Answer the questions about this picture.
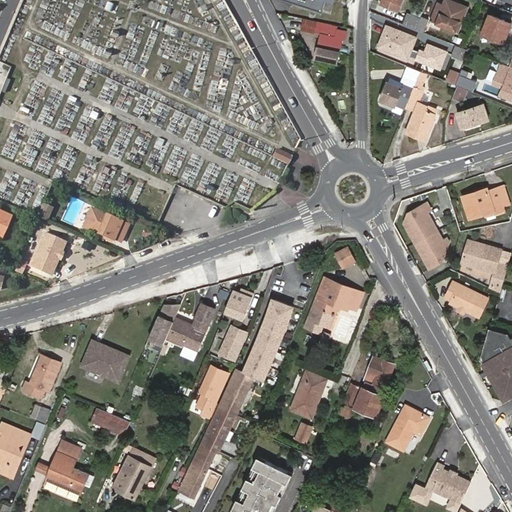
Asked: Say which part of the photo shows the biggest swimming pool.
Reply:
left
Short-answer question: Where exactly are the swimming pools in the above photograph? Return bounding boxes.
[63,196,85,226]
[481,82,500,96]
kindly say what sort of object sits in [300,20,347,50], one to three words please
house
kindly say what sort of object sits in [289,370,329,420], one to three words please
house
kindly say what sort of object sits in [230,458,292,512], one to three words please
building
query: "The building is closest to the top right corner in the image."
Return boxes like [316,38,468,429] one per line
[480,15,512,46]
